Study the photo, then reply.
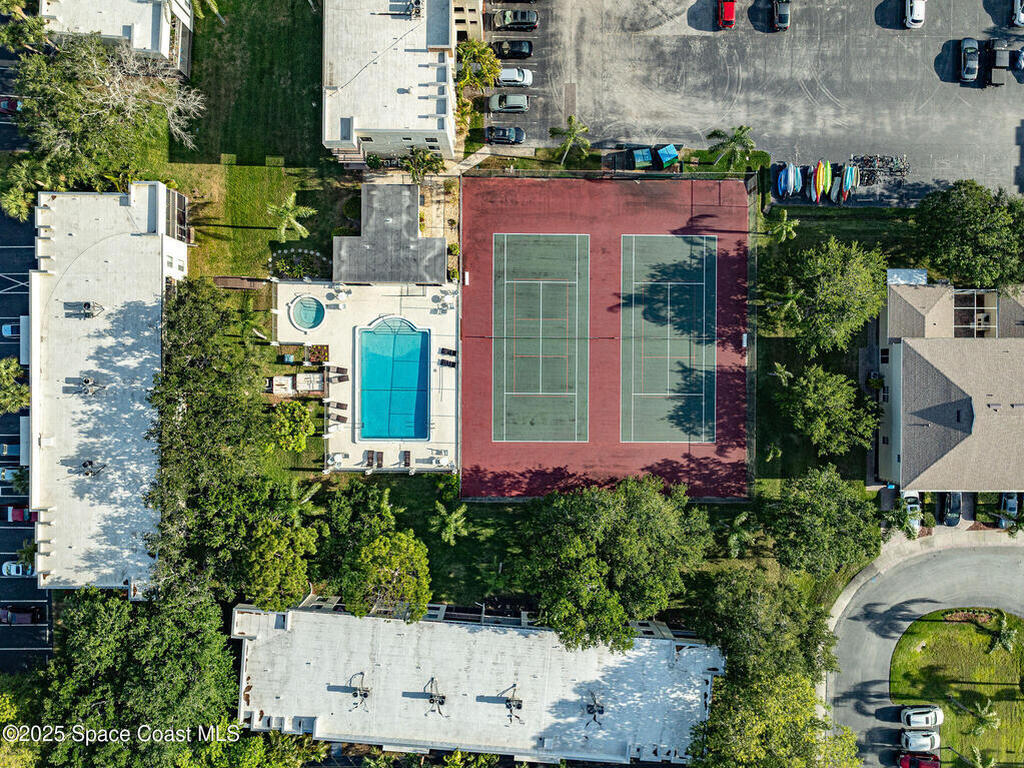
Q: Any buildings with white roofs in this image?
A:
Yes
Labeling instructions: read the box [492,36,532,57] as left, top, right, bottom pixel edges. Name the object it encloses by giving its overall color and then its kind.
black car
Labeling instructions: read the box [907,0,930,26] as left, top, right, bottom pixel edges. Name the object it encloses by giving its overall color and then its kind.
white car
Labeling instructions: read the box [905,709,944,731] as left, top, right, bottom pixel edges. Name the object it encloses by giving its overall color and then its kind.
white car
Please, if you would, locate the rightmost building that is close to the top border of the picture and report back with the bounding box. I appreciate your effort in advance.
[322,0,455,180]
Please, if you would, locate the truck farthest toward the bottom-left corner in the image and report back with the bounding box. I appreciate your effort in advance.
[0,605,37,628]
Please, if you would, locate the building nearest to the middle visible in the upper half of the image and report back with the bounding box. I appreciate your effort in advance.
[333,184,448,286]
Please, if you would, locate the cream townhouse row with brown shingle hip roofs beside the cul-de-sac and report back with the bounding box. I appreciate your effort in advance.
[879,284,1024,492]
